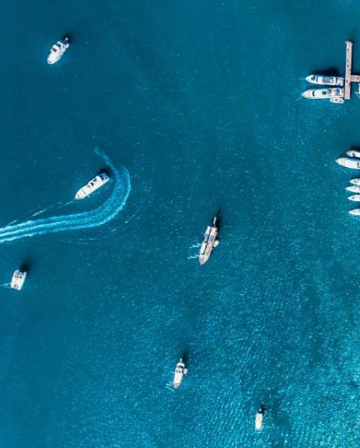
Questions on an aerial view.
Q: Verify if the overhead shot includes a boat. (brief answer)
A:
Yes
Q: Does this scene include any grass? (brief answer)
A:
No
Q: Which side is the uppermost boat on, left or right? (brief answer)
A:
left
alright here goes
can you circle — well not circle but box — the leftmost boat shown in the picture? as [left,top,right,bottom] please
[1,267,27,290]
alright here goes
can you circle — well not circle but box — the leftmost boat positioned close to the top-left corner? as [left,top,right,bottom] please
[49,38,72,61]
